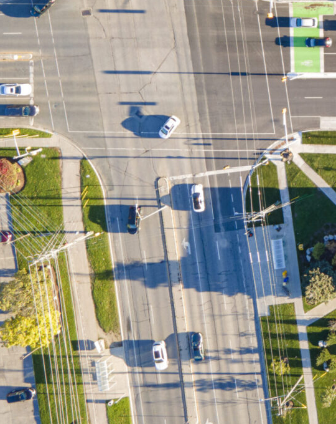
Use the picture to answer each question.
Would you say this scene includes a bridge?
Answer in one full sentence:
No, I find no bridge anywhere in the image.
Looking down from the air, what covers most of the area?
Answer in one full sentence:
The scene is dominated by paved ground.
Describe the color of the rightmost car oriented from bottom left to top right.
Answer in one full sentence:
The rightmost car oriented from bottom left to top right is white.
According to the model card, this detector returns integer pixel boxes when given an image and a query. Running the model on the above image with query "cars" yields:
[189,332,204,361]
[304,36,332,49]
[191,182,205,211]
[158,112,181,140]
[153,340,168,369]
[0,230,10,243]
[30,0,58,19]
[126,204,141,232]
[6,387,36,402]
[0,84,29,97]
[292,16,318,29]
